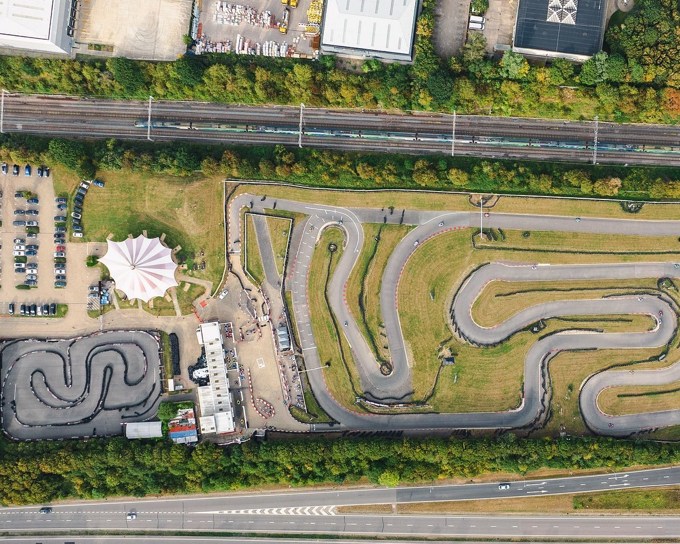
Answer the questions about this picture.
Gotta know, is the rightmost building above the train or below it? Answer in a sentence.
The rightmost building is located above the train in this view.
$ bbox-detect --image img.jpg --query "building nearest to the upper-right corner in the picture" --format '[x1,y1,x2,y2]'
[513,0,606,59]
